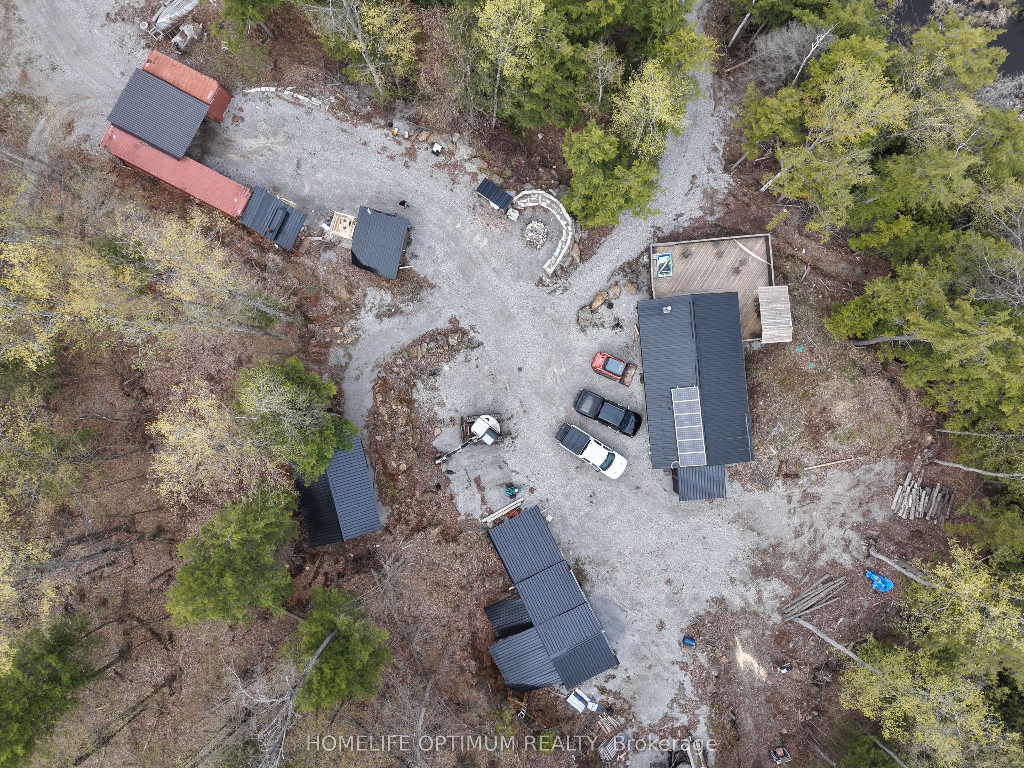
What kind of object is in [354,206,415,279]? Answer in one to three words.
shed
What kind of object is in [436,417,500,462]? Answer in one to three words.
work vehicle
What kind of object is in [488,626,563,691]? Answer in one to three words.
shed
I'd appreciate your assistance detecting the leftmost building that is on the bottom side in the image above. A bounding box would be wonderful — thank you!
[289,437,382,547]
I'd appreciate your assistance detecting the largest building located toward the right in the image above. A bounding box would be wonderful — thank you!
[635,292,754,470]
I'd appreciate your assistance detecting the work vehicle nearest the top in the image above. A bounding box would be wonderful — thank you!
[594,354,641,393]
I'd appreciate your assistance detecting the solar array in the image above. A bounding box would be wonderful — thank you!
[671,385,707,468]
